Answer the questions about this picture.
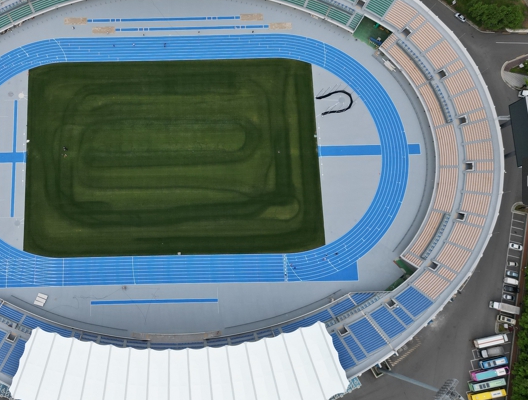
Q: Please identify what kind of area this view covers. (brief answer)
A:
sports ground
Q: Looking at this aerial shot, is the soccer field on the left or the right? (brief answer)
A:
left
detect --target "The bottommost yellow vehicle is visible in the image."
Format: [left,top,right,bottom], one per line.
[463,387,506,400]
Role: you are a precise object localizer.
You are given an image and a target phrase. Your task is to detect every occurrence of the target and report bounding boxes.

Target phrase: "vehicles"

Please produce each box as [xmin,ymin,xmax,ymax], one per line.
[464,376,506,392]
[505,270,519,278]
[453,14,466,24]
[501,277,517,286]
[508,243,522,251]
[466,365,510,381]
[486,301,522,315]
[503,285,517,293]
[506,261,517,268]
[477,347,506,359]
[468,333,508,349]
[494,315,517,325]
[474,356,508,371]
[463,387,506,400]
